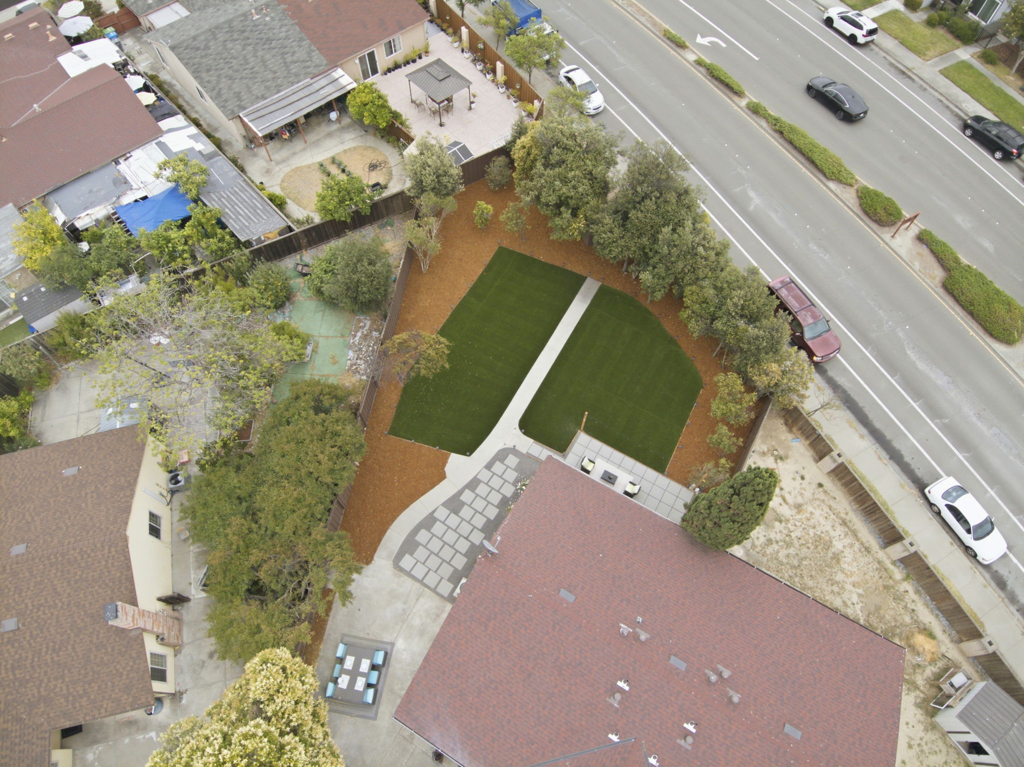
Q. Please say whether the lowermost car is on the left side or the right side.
right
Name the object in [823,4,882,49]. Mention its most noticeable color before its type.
white car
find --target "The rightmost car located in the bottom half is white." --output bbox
[926,481,1011,571]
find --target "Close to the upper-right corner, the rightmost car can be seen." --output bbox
[963,112,1024,164]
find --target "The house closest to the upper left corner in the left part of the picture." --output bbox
[0,5,165,227]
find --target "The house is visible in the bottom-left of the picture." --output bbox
[0,421,184,767]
